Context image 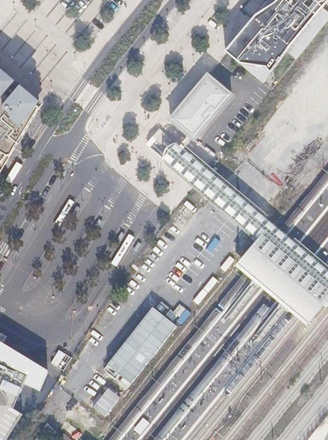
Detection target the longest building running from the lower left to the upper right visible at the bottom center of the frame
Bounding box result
[104,306,176,390]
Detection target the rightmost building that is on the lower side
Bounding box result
[234,233,328,328]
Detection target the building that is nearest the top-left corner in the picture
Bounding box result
[0,68,44,154]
